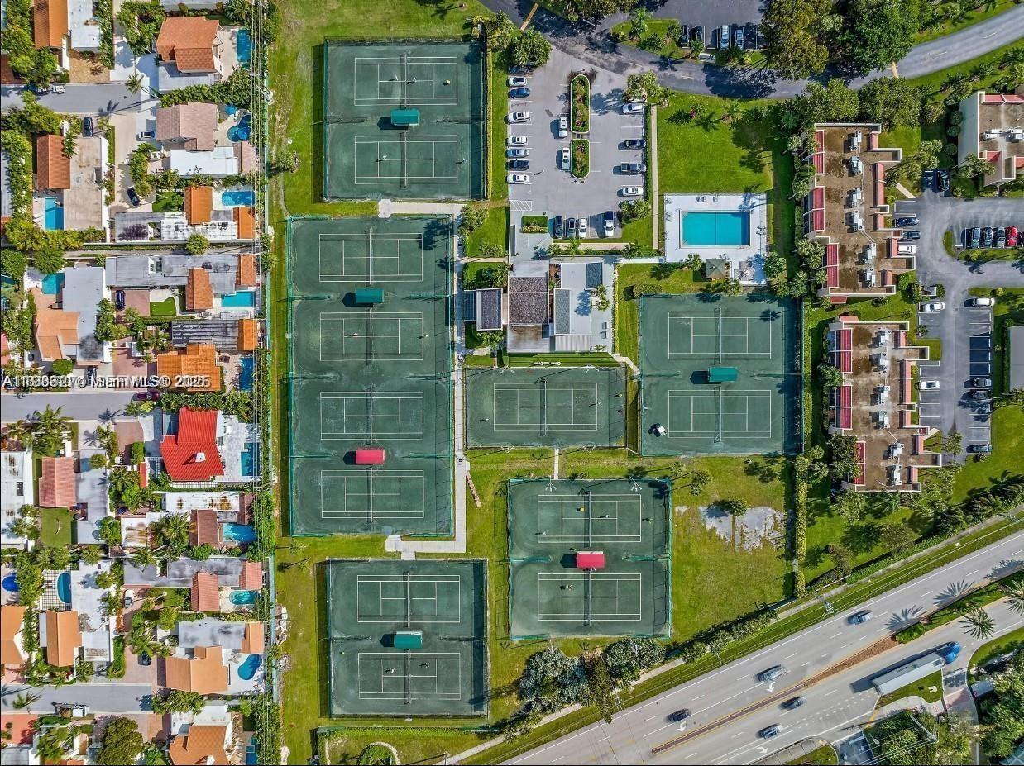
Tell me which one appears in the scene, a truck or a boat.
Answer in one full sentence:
Of the two, only a truck appears.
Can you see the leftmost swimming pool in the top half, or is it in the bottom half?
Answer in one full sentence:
You can find the leftmost swimming pool in the bottom half.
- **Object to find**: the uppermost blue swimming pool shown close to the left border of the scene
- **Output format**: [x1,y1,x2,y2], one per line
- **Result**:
[43,195,65,231]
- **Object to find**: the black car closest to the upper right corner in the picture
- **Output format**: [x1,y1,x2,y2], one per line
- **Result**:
[936,172,948,193]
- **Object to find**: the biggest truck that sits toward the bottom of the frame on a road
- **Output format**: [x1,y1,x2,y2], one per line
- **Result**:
[870,643,960,696]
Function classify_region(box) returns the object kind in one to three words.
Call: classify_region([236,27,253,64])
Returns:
swimming pool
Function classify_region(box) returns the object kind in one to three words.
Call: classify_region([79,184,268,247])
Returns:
house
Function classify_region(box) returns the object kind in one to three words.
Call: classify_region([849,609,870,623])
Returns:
car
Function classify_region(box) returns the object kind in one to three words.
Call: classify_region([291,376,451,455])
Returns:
tennis court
